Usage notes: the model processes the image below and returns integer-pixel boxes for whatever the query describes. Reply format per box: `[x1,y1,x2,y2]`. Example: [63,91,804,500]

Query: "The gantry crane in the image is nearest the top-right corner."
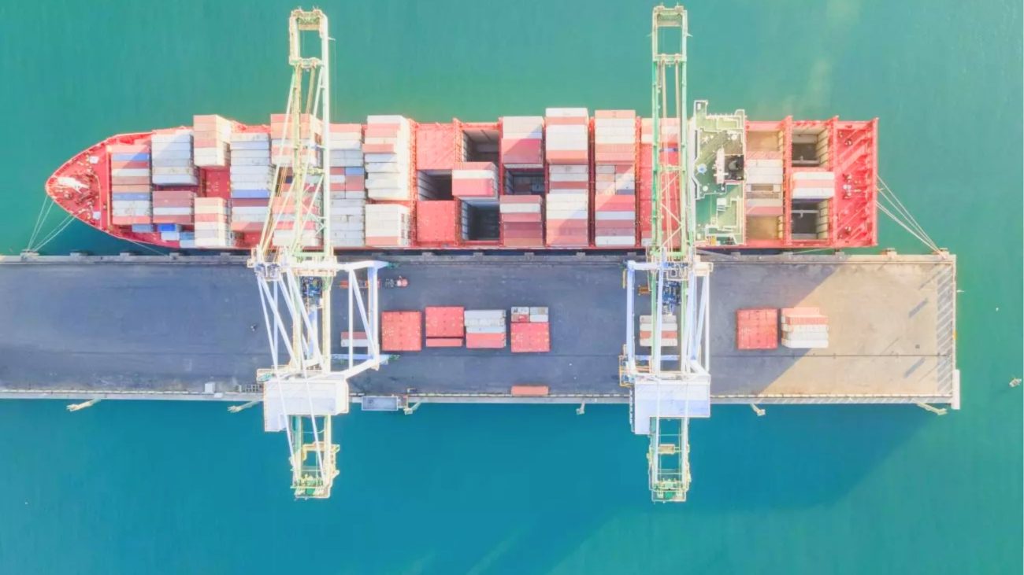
[613,0,712,505]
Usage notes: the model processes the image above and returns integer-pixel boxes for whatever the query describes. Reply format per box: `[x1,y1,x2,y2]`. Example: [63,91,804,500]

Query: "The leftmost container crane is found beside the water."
[240,3,403,501]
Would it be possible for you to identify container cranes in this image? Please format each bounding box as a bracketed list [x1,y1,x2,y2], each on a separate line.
[240,3,403,501]
[613,0,712,505]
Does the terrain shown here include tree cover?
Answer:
No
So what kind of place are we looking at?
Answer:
port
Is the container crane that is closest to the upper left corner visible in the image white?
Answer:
Yes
